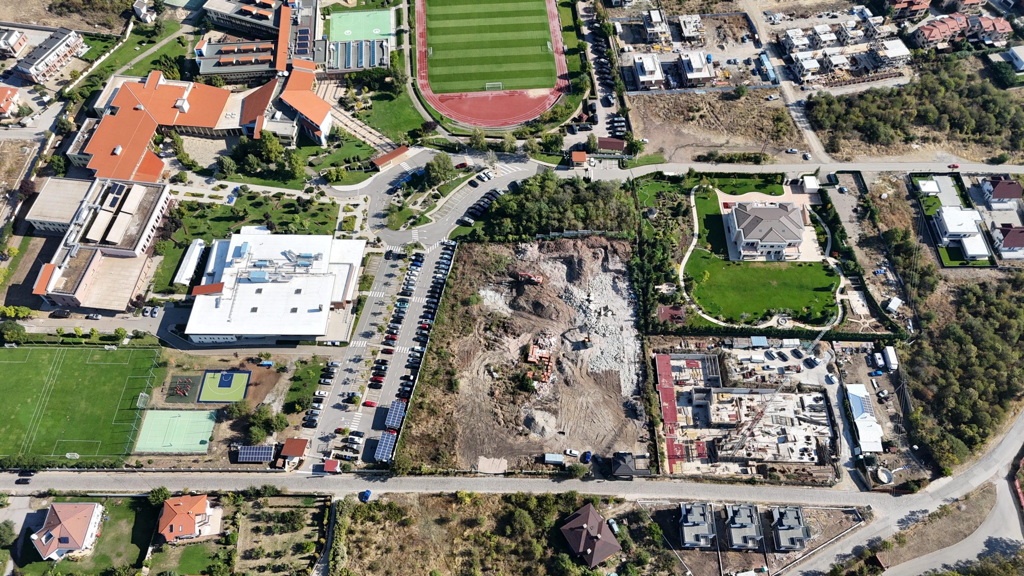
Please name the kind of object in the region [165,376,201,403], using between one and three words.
playground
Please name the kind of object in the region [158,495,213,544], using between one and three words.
house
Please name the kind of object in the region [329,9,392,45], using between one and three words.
sports court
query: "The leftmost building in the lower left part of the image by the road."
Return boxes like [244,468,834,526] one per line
[26,503,103,562]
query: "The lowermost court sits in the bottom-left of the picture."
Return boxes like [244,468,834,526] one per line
[135,410,216,452]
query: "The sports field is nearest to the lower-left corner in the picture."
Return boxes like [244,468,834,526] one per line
[0,345,162,458]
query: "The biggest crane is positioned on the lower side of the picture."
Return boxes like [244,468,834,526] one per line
[728,314,839,463]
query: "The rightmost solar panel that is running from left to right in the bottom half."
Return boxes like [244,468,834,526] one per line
[239,446,274,462]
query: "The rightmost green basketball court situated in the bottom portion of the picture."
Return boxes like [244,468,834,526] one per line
[196,370,251,403]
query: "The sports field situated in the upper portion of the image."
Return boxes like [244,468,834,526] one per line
[426,0,559,95]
